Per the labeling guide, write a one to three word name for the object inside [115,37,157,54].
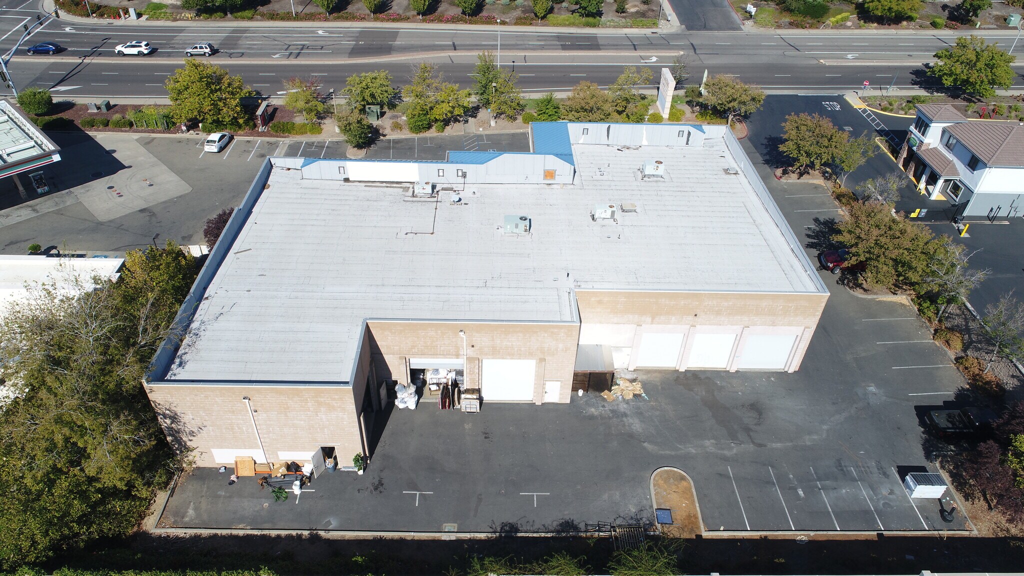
car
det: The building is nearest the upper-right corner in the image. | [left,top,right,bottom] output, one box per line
[892,102,1024,217]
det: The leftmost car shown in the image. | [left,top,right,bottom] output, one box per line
[26,38,66,53]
